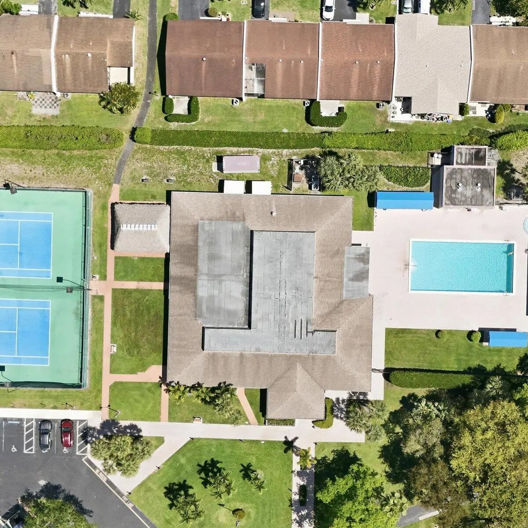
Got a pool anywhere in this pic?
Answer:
Yes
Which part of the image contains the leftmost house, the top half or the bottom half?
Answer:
top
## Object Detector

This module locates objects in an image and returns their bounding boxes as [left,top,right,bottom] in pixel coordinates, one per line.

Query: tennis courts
[0,190,90,289]
[0,287,90,385]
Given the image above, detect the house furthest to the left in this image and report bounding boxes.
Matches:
[0,14,62,98]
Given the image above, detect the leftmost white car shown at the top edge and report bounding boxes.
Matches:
[322,0,337,22]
